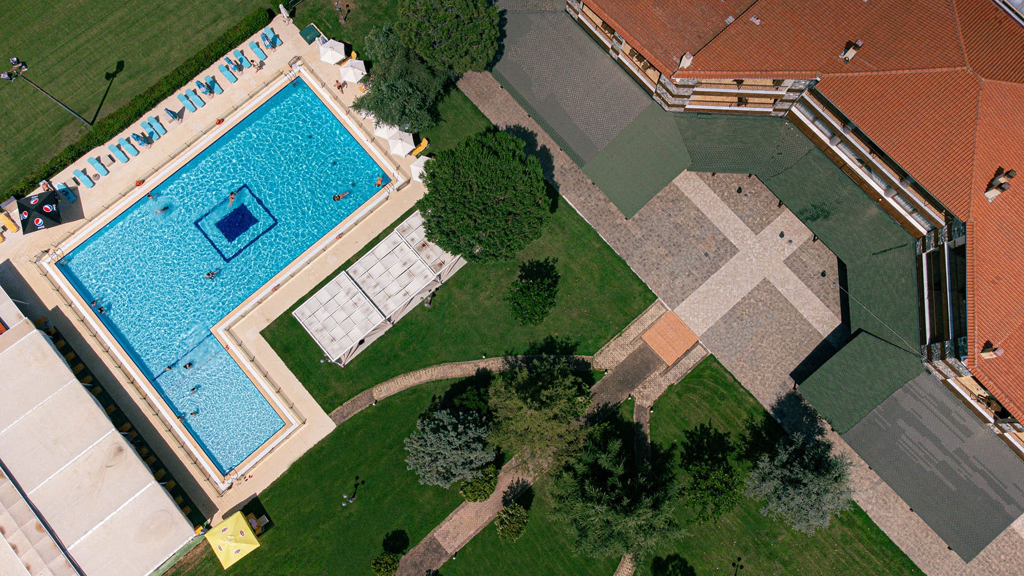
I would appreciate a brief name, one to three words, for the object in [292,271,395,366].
gazebo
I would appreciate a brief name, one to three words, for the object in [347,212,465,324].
gazebo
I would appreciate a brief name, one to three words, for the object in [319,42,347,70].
umbrella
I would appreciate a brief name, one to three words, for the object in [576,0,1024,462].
building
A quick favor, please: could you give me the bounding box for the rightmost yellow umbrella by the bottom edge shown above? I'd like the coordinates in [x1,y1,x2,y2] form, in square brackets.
[205,510,261,569]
